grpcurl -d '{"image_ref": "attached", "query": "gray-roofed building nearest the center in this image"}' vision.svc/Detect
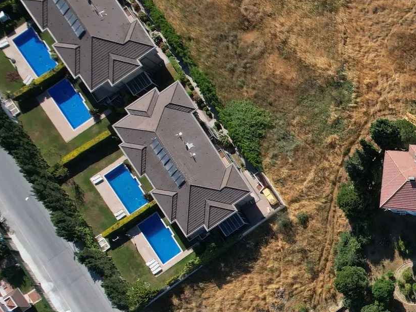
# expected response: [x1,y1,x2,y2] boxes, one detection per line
[110,80,261,241]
